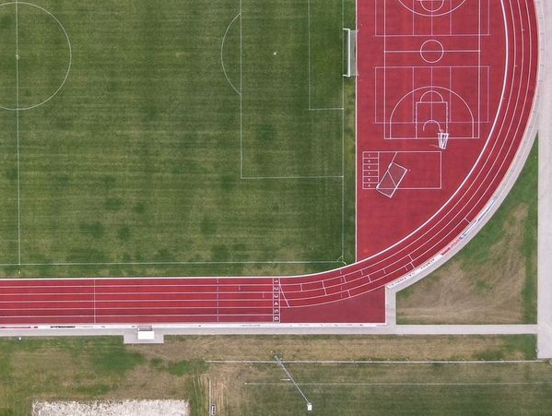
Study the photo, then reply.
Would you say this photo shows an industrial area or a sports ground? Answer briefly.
sports ground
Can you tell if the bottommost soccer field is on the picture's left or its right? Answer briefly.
right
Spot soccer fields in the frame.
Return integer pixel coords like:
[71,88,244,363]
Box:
[0,0,356,279]
[232,362,552,416]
